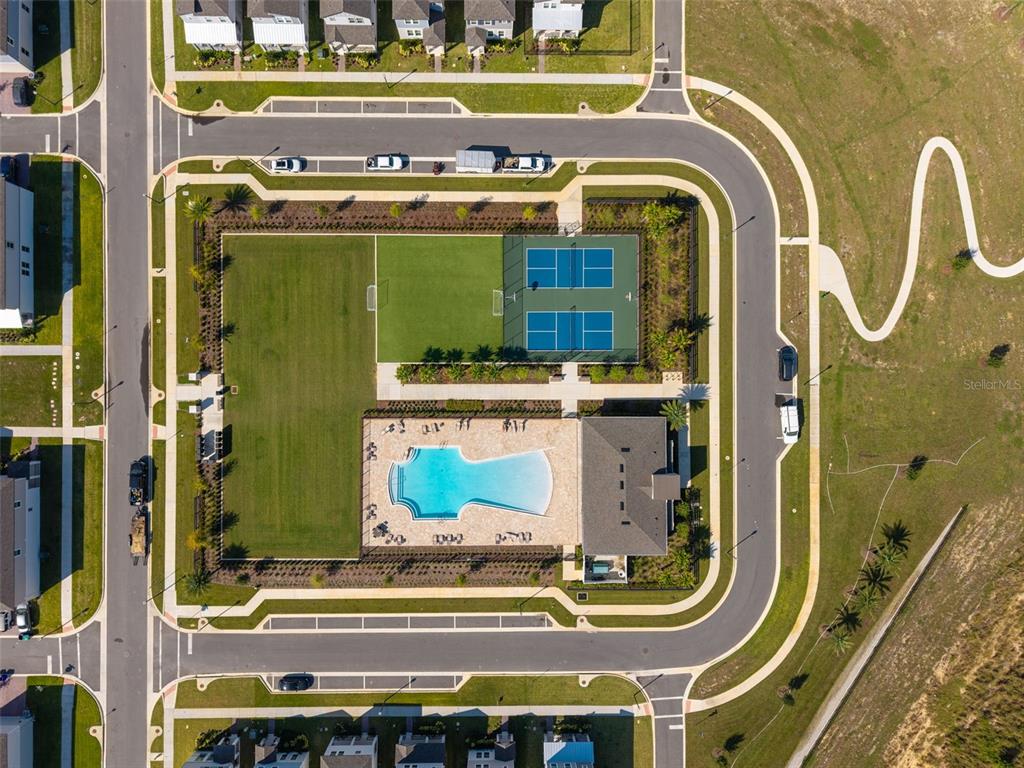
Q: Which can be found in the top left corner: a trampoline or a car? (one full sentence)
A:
Visible in the top left corner is a car.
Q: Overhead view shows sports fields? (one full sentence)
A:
Yes, the frame does contain a sports field.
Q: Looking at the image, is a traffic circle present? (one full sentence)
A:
No, there's no traffic circle here.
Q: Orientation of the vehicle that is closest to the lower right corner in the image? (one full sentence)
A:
Seen from above, the vehicle that is closest to the lower right corner lies vertically.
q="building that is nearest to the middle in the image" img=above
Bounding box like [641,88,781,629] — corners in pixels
[581,416,680,557]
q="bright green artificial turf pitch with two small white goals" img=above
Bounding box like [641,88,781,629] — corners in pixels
[376,234,503,363]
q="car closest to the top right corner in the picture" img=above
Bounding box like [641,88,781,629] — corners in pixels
[780,347,797,380]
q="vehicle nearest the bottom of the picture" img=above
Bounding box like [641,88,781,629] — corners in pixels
[281,674,313,691]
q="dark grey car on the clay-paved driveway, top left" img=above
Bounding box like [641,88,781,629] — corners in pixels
[11,77,29,106]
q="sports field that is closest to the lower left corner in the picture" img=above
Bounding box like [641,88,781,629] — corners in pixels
[221,234,376,559]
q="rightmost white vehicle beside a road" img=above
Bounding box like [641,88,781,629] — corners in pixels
[779,405,800,444]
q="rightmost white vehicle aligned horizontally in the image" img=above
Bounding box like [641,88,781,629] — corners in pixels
[503,155,544,173]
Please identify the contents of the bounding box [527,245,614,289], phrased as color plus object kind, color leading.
blue sports court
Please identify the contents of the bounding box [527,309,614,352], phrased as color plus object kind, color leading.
blue sports court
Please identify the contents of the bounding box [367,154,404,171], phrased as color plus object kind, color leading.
white vehicle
